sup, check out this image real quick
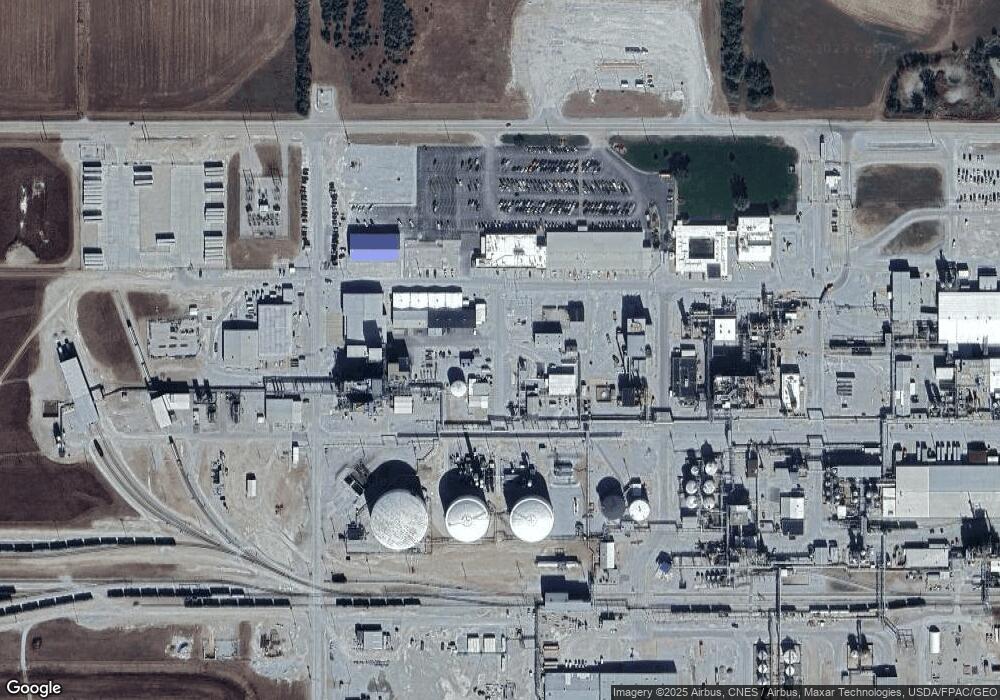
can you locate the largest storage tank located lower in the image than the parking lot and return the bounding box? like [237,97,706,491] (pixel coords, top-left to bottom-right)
[368,490,427,550]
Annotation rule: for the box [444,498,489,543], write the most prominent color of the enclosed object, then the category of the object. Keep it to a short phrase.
white storage tank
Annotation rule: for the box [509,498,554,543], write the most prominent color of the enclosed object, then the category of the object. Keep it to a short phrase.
white storage tank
